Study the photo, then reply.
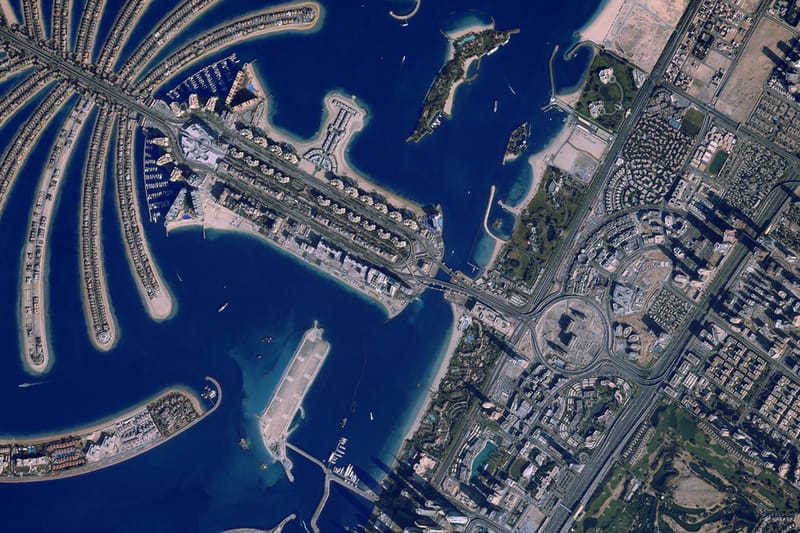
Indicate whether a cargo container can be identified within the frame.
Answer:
No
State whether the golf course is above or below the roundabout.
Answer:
below it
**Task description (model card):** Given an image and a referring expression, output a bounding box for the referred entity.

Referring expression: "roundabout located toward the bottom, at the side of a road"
[530,293,616,377]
